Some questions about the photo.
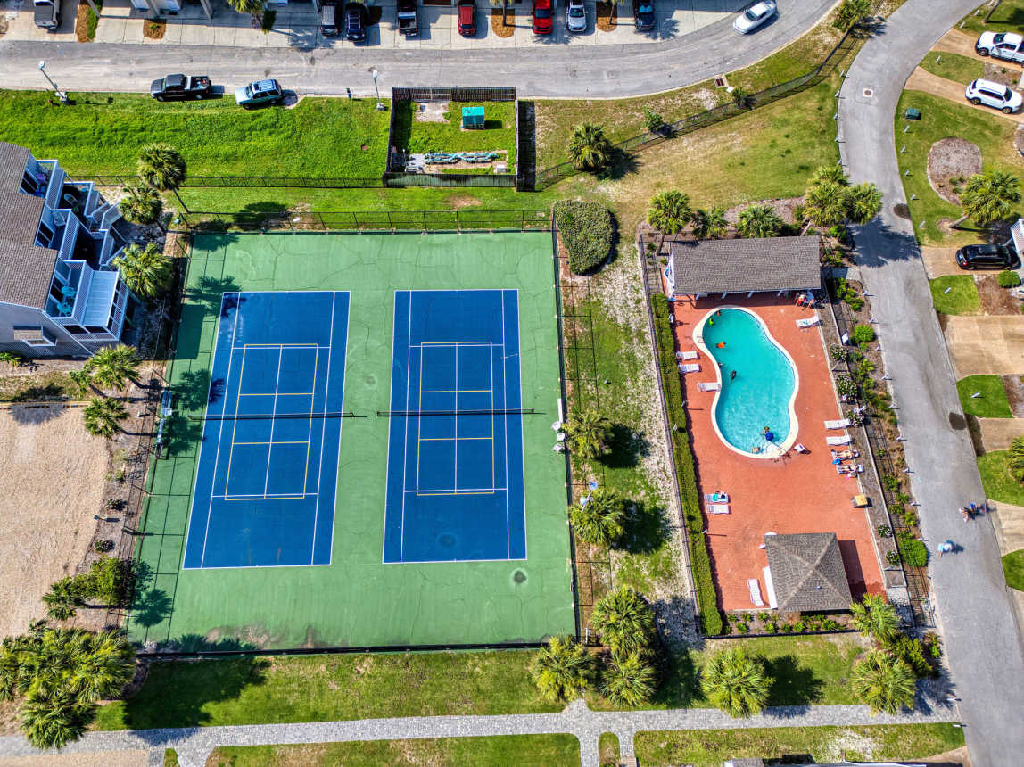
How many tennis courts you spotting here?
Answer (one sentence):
I count 2 tennis courts.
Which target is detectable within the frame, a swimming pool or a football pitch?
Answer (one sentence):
The image shows a swimming pool.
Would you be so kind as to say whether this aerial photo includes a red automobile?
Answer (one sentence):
Yes, I can see a red automobile in this picture.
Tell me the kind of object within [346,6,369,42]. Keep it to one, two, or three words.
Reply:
car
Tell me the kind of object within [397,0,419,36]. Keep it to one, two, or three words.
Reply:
truck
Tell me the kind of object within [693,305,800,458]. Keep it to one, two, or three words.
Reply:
swimming pool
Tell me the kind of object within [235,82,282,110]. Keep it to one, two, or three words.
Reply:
car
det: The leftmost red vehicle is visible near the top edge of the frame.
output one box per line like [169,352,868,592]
[455,1,477,37]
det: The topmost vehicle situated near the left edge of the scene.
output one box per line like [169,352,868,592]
[34,0,68,28]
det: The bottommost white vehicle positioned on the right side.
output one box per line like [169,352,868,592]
[974,83,1024,113]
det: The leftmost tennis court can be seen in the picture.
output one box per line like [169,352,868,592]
[124,230,376,660]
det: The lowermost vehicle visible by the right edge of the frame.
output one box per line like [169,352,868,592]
[964,245,1024,272]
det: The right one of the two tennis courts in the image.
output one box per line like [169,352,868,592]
[352,230,579,654]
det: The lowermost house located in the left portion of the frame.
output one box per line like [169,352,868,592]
[0,140,144,355]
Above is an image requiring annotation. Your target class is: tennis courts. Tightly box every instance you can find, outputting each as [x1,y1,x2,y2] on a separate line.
[124,230,376,660]
[352,230,579,654]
